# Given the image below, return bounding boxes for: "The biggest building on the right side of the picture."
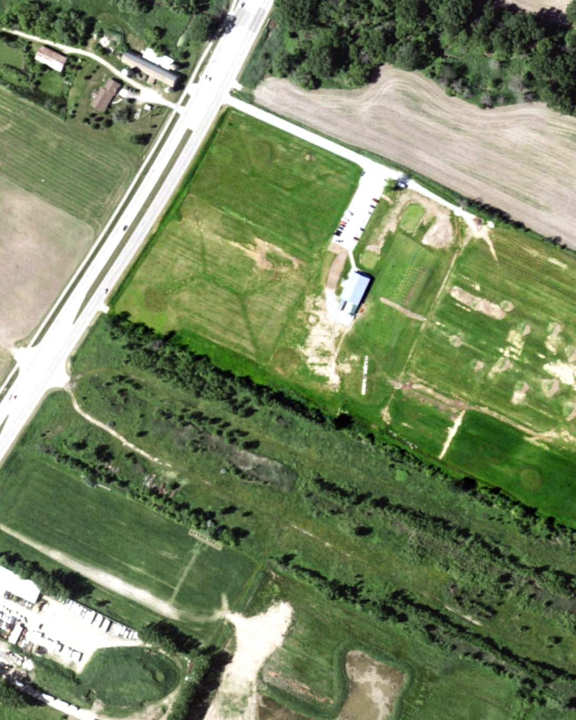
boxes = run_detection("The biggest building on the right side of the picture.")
[335,268,370,305]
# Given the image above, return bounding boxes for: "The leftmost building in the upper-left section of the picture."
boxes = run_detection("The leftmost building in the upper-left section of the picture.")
[36,45,66,71]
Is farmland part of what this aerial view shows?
Yes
